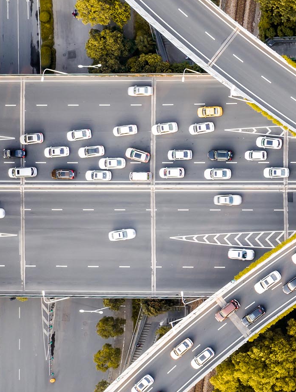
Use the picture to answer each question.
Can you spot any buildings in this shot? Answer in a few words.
No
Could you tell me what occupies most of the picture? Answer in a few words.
paved ground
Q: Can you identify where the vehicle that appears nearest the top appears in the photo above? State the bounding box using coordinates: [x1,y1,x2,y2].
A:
[127,84,154,97]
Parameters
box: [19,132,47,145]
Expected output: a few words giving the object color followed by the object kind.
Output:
white vehicle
